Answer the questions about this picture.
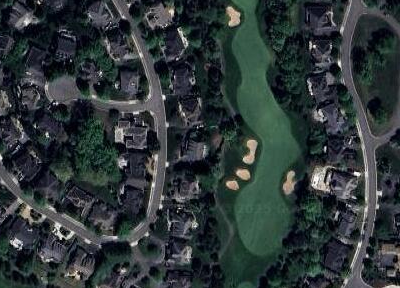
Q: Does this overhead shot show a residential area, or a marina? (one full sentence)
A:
This image shows a residential area.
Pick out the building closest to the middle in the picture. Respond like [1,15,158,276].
[176,130,206,161]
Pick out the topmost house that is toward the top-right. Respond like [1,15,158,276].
[306,3,334,35]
